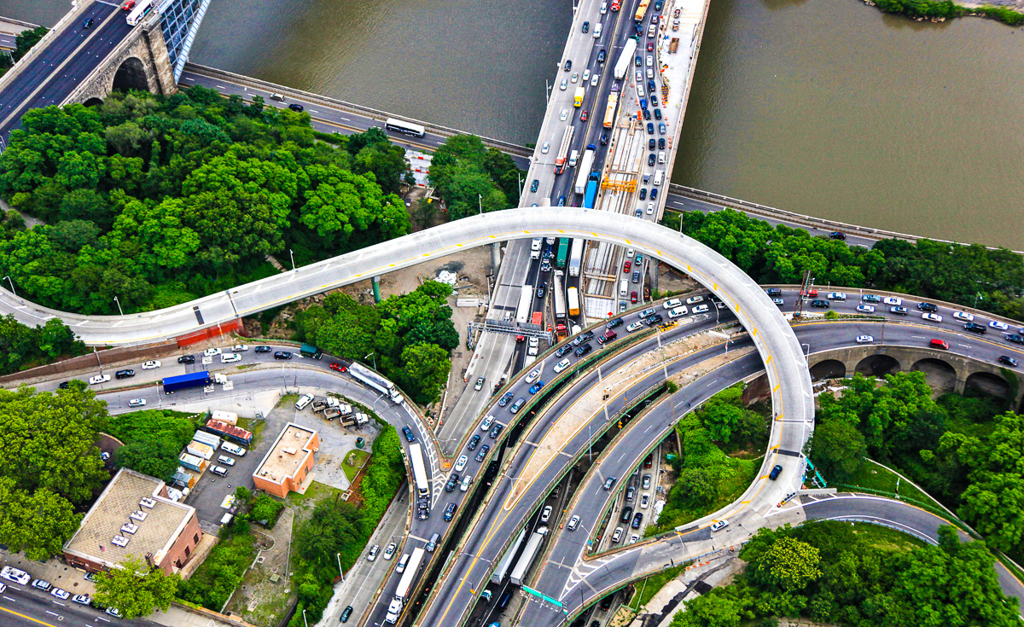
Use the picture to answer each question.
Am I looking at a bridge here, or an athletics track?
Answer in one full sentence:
It is a bridge that can be seen here.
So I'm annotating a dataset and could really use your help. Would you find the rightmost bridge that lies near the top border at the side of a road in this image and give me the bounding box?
[516,0,716,226]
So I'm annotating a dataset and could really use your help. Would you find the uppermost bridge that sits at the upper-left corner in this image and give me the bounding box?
[0,0,228,201]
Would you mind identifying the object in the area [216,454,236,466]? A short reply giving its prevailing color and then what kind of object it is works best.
white vehicle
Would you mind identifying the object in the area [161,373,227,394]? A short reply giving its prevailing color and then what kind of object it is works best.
blue truck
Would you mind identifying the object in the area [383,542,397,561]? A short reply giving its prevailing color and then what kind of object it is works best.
white car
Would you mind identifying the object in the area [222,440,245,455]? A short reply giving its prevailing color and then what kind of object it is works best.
white vehicle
